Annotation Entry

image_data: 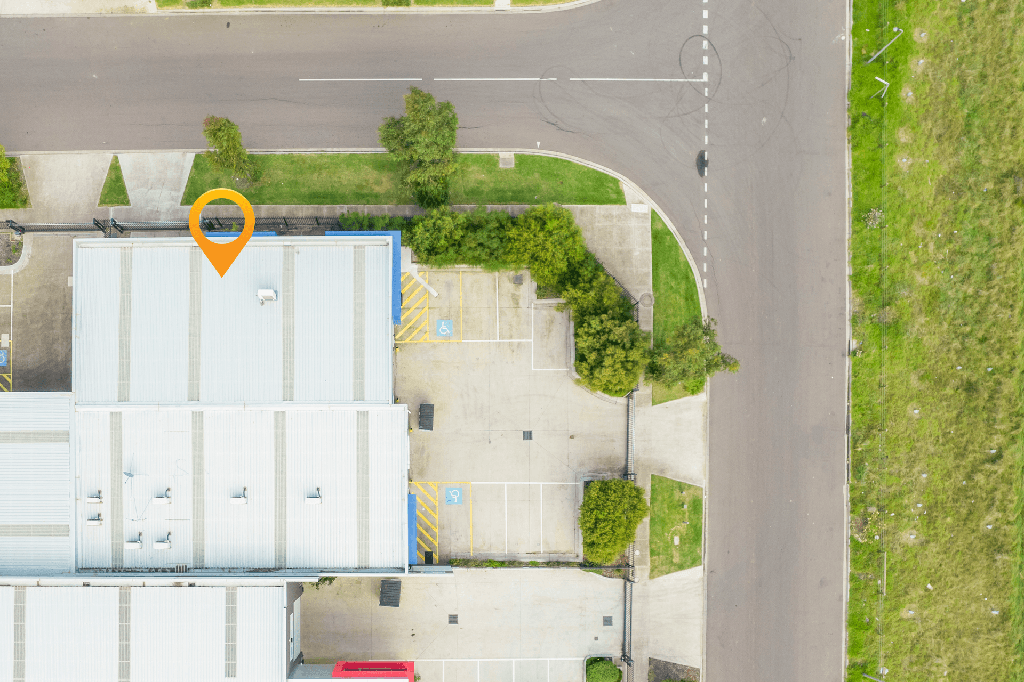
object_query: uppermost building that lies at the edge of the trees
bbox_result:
[73,231,403,406]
